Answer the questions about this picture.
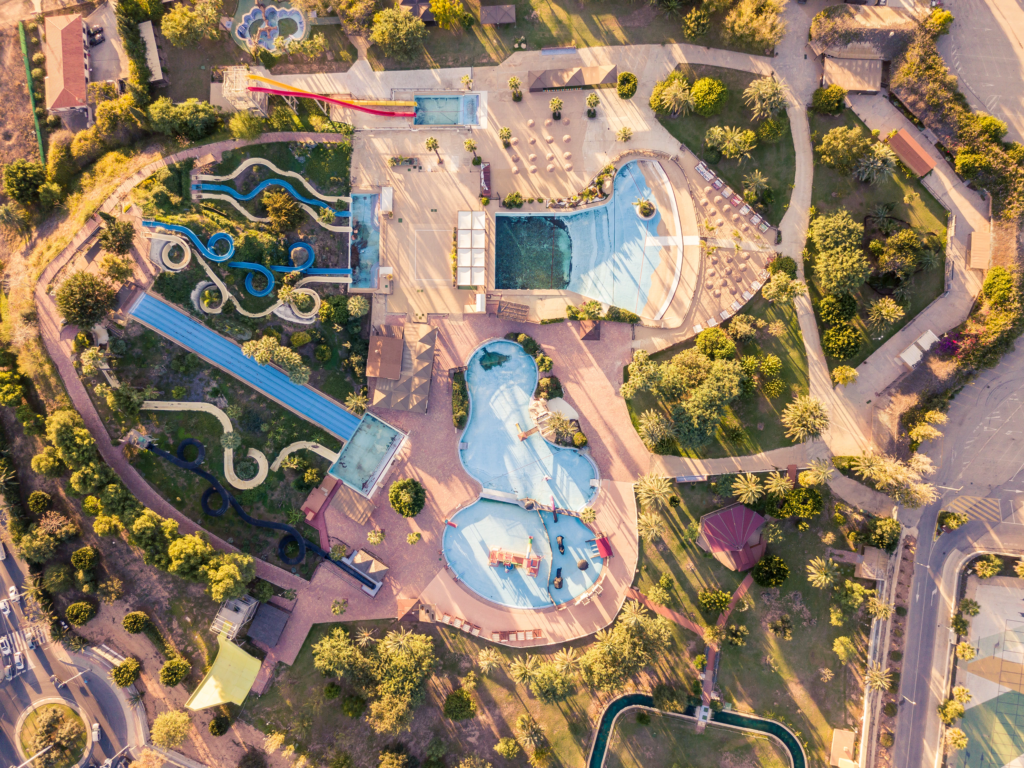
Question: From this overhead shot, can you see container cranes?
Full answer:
No, no container crane can be seen from above.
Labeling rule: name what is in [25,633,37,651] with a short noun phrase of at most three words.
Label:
vehicle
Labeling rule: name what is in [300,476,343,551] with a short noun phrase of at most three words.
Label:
building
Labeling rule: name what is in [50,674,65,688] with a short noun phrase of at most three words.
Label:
car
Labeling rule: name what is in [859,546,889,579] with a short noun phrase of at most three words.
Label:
building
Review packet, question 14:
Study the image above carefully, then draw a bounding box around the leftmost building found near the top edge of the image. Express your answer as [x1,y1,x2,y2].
[44,14,98,117]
